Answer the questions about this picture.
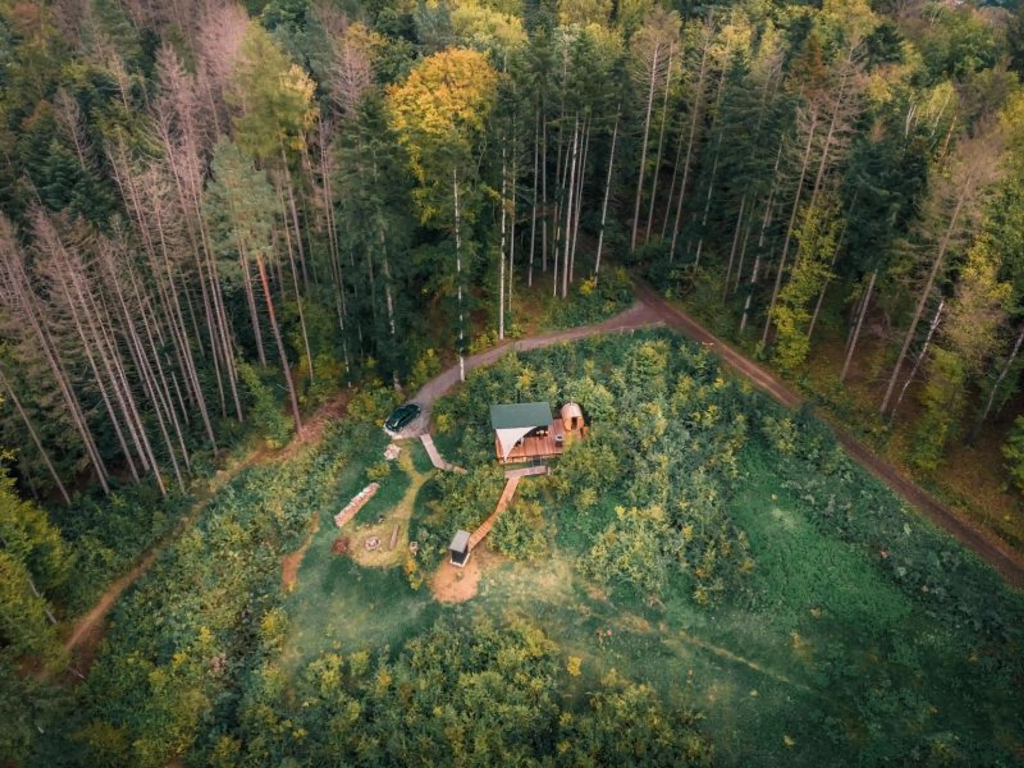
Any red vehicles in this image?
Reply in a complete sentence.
No, I can see no red vehicle in this picture.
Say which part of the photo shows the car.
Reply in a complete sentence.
The car appears toward the center of the photo.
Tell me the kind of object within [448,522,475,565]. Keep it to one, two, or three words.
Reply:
shed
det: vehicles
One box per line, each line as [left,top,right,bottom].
[382,401,426,432]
